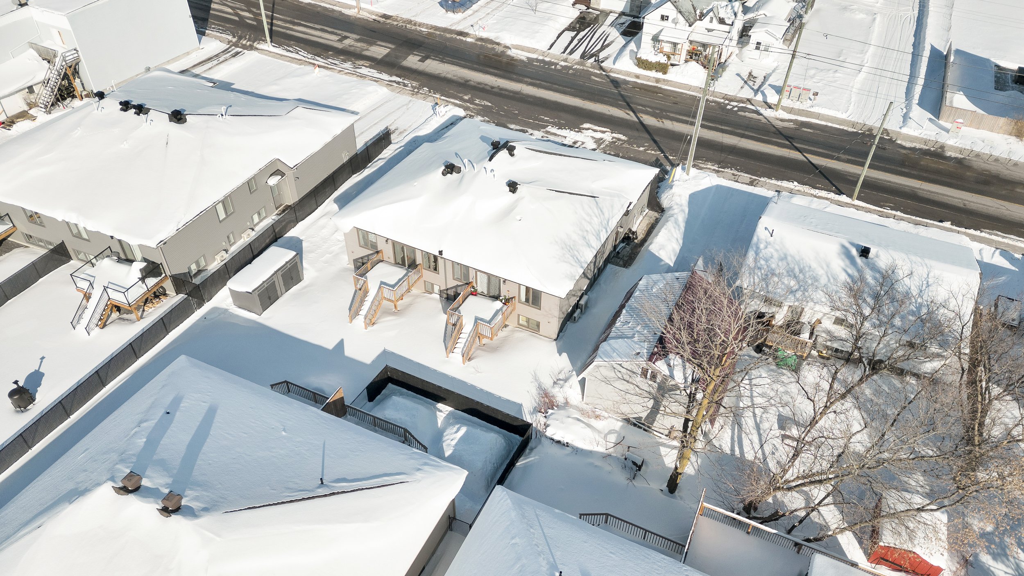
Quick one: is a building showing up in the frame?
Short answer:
Yes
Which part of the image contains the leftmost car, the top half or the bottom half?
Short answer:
top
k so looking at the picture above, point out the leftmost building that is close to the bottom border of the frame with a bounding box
[0,353,472,576]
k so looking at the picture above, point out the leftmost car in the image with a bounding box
[615,13,643,36]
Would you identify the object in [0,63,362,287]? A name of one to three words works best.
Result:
house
